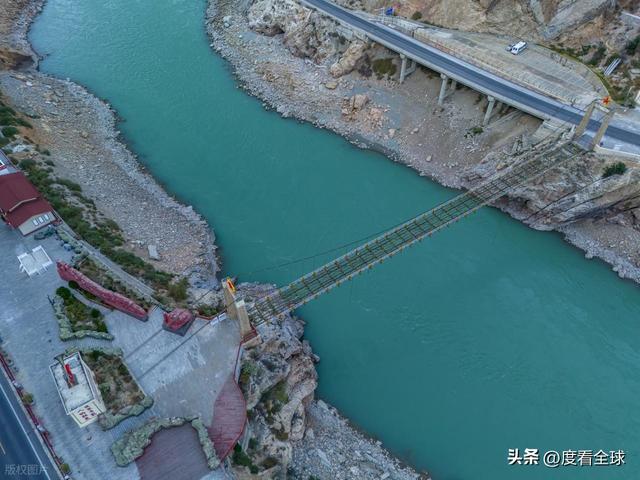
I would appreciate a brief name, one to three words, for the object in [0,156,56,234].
house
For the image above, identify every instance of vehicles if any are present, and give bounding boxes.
[512,42,525,54]
[504,44,514,51]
